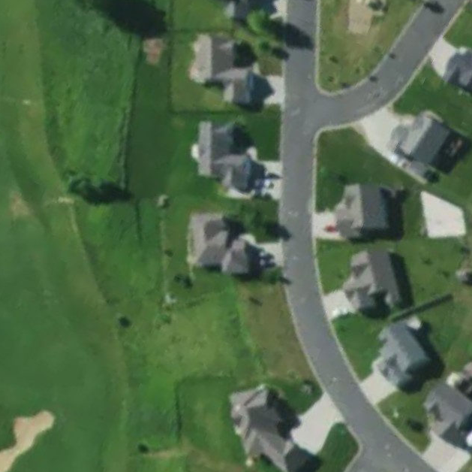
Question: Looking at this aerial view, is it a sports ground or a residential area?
residential area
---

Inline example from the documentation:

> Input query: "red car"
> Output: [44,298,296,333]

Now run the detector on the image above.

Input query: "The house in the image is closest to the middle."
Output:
[190,215,252,274]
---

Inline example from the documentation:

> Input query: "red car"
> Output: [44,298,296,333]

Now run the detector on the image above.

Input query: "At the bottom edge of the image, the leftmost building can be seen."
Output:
[232,383,298,471]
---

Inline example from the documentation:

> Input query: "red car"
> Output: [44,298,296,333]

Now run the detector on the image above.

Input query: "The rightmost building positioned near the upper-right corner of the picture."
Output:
[440,48,472,101]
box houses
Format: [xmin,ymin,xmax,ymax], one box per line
[440,48,472,101]
[232,383,298,471]
[190,215,252,274]
[383,112,452,180]
[344,248,400,313]
[227,0,261,21]
[197,33,256,103]
[333,182,390,238]
[198,121,254,191]
[422,377,472,452]
[377,316,433,391]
